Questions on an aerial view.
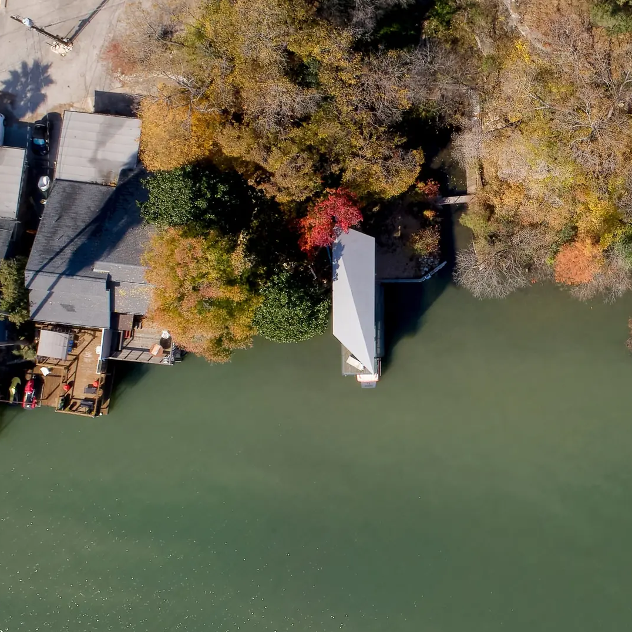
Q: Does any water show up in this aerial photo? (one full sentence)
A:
Yes, water shows up in the scene.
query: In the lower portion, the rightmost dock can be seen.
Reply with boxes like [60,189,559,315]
[25,367,62,407]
